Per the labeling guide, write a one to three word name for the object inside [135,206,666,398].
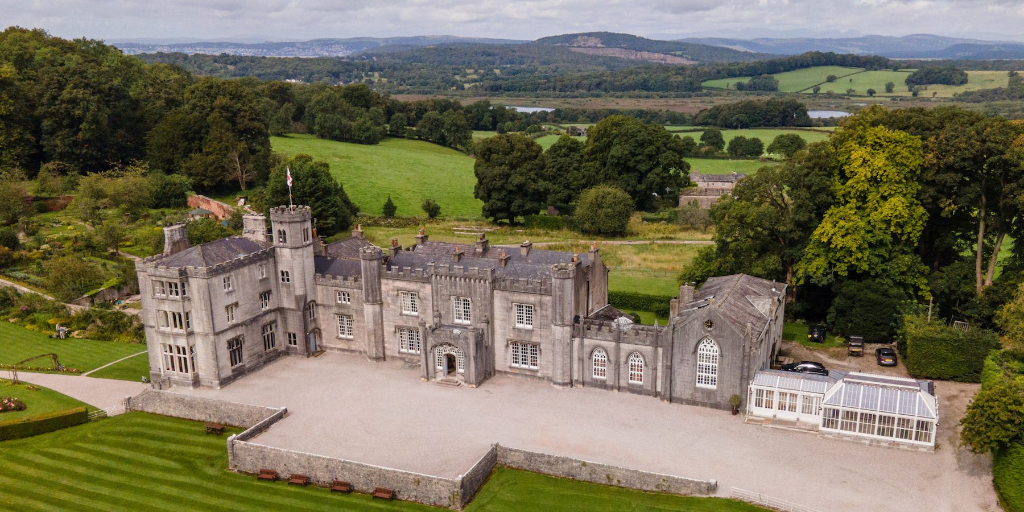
building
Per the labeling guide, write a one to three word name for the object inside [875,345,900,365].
car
